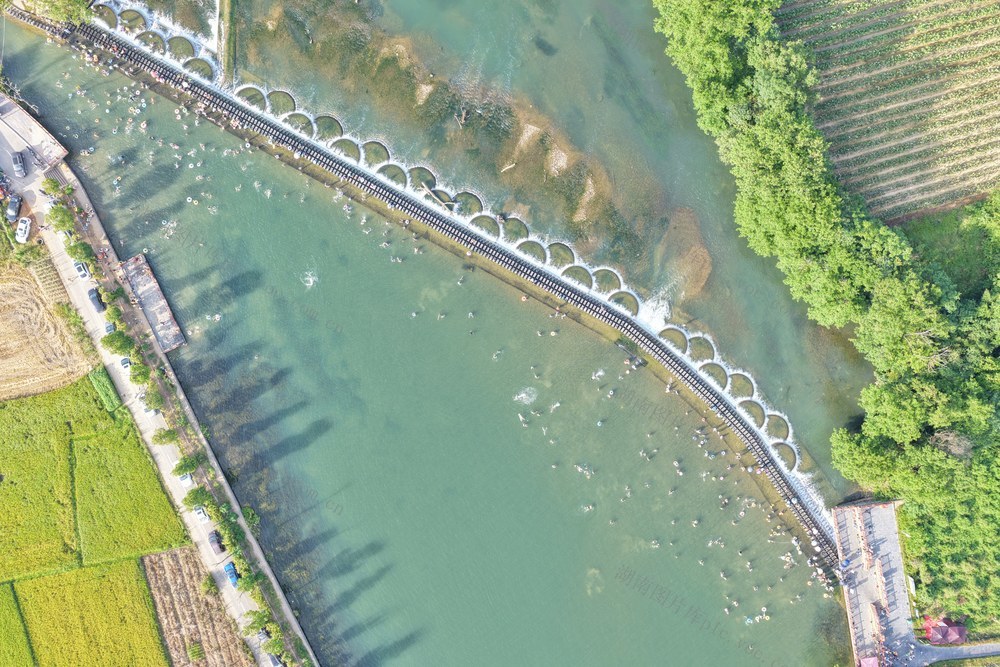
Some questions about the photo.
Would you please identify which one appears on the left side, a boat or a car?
car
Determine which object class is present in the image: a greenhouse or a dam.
dam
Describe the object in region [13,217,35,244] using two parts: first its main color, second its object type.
white car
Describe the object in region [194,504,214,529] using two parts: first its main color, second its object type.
white car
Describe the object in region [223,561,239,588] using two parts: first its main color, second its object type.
blue car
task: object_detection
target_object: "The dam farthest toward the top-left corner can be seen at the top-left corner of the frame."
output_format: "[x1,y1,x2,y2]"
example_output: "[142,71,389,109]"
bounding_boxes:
[0,7,79,57]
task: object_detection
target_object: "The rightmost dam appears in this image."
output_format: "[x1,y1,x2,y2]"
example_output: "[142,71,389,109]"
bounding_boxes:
[70,3,840,564]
